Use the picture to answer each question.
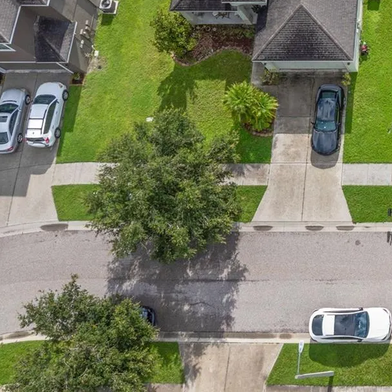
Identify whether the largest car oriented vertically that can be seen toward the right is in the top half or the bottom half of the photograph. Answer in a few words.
top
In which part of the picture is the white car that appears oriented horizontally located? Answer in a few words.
bottom right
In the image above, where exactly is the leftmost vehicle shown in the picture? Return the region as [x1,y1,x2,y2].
[0,89,32,154]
